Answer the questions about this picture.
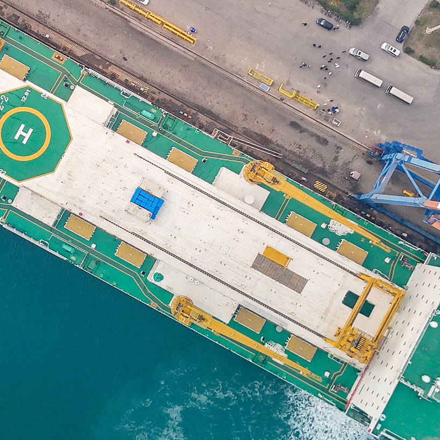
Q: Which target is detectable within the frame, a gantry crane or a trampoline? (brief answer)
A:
gantry crane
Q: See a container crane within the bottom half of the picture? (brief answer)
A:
Yes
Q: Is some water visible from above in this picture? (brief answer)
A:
Yes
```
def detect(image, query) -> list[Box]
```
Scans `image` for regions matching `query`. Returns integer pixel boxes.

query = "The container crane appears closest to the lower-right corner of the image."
[325,274,408,361]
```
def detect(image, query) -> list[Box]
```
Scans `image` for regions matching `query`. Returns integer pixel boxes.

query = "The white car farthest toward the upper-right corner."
[381,42,402,56]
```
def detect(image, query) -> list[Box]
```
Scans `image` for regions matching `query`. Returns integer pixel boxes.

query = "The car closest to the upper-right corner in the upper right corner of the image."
[396,24,411,43]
